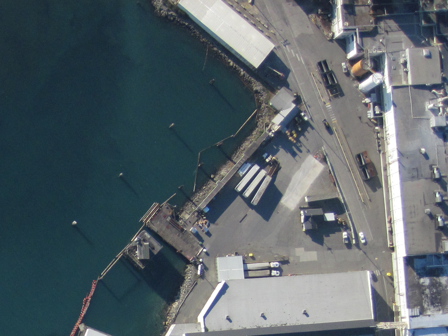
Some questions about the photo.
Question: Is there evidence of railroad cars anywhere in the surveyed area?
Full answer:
Yes, the photo shows a railroad car.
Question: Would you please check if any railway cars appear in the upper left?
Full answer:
No, the scene shows no railway car in the upper left.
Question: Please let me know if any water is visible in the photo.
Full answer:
Yes, some water is visible.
